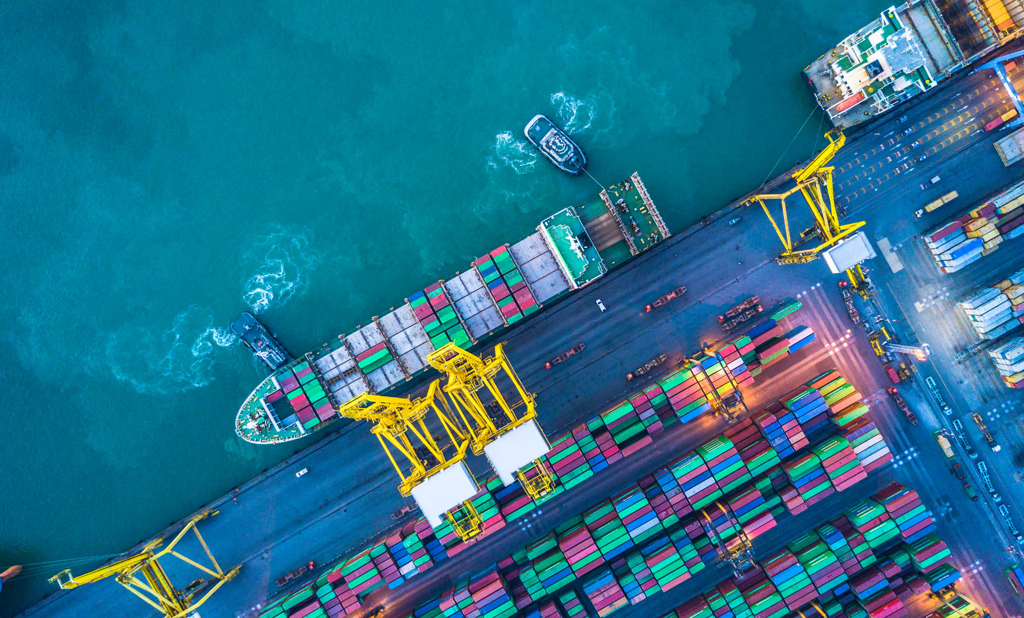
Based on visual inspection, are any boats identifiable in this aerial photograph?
Yes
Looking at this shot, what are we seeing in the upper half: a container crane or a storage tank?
container crane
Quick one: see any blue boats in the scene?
Yes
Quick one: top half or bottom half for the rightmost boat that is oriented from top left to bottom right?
top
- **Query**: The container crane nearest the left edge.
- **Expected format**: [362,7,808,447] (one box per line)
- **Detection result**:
[40,505,251,618]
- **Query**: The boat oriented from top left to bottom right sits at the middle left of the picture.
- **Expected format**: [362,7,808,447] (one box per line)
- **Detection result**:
[232,309,291,368]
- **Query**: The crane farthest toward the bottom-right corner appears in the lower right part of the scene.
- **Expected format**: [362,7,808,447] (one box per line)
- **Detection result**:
[932,582,997,618]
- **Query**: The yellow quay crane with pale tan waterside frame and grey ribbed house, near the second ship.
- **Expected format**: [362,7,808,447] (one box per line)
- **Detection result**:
[727,118,887,302]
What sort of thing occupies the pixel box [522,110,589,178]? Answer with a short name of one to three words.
boat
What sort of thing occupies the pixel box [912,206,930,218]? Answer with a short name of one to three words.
vehicle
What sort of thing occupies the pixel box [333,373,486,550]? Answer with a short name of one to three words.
container crane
